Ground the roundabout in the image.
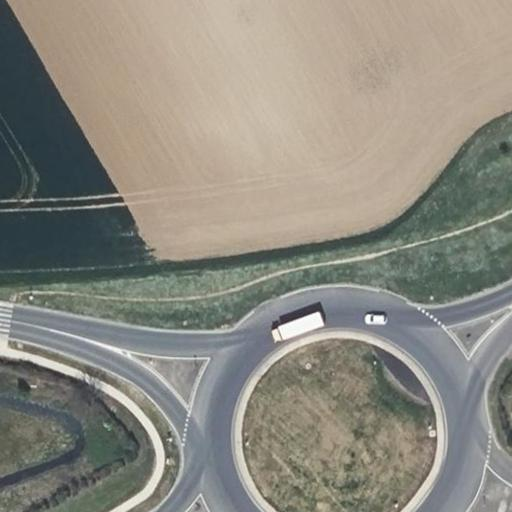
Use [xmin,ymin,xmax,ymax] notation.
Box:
[188,286,490,512]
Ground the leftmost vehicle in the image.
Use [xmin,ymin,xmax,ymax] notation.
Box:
[271,312,324,342]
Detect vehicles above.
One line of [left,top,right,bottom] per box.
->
[271,312,324,342]
[365,314,388,325]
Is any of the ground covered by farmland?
Yes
